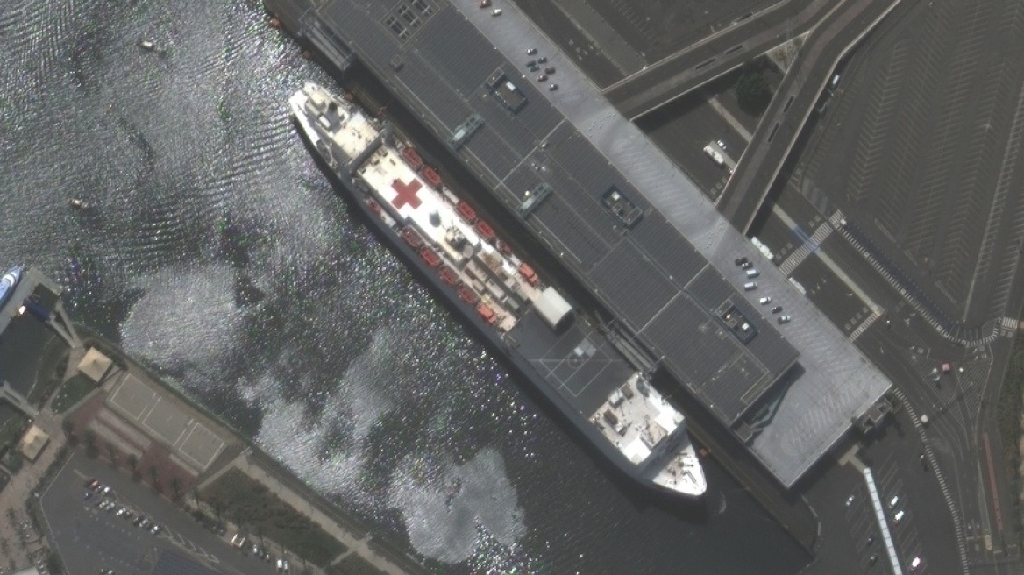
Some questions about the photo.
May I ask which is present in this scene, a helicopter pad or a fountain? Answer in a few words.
helicopter pad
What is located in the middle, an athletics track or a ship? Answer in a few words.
ship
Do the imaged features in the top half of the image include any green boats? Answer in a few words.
No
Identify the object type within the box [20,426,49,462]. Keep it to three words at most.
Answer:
tent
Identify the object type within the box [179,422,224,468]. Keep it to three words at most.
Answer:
sports court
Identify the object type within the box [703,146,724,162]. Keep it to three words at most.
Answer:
vehicle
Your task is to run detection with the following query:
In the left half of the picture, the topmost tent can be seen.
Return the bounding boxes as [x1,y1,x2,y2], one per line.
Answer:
[78,351,113,384]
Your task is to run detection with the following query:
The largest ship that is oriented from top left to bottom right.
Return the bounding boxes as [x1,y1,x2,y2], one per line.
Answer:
[286,55,736,496]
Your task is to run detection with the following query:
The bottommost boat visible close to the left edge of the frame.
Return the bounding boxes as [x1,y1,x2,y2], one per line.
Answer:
[0,267,21,308]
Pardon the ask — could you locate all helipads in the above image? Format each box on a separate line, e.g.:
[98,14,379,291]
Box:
[529,325,627,396]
